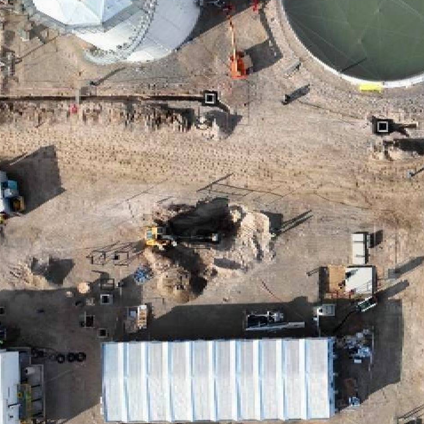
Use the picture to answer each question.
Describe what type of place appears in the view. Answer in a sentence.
The area seen from above is an industrial area.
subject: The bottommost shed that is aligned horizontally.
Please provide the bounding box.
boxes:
[101,335,337,424]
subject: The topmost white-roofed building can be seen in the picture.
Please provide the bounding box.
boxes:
[353,234,366,264]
